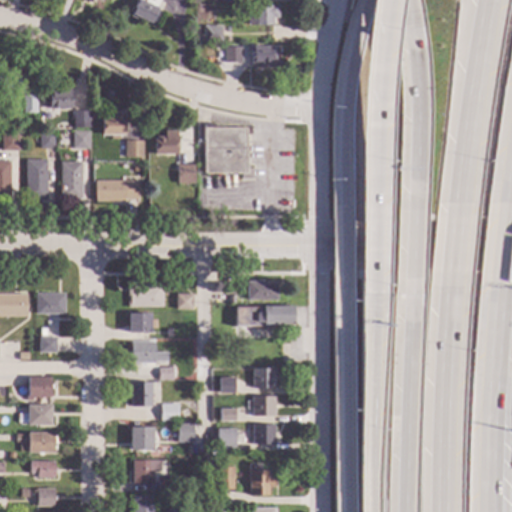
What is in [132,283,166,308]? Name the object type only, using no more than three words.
house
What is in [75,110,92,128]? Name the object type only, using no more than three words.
building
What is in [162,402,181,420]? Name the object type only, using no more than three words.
building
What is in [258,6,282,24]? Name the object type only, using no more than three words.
house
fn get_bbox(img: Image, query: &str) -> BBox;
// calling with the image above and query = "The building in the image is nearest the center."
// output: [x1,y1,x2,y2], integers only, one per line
[249,278,281,300]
